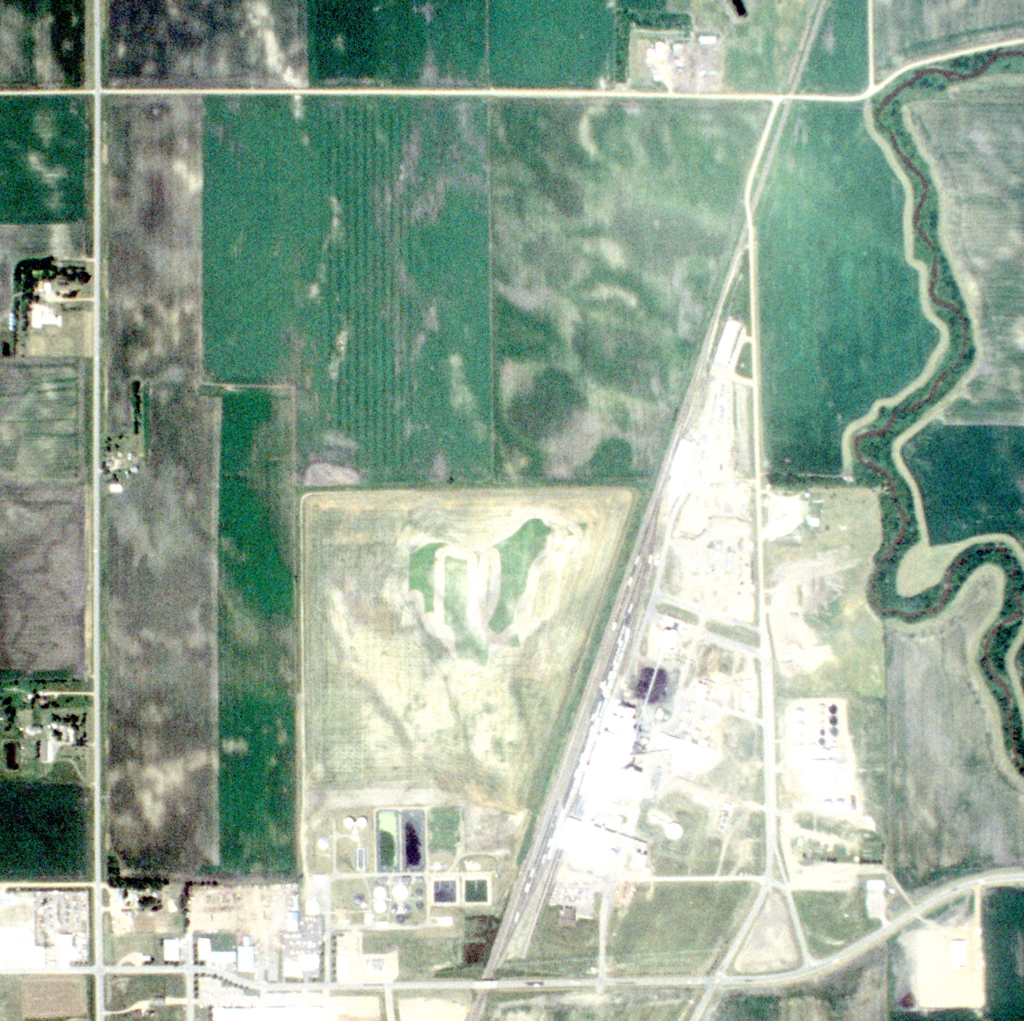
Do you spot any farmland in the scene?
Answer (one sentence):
Yes, there is farmland in the image.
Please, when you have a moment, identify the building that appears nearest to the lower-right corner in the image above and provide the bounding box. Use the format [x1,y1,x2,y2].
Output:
[951,941,967,967]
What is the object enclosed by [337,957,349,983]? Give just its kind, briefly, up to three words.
building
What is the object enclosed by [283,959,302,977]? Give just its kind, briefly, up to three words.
building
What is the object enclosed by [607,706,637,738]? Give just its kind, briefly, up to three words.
house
